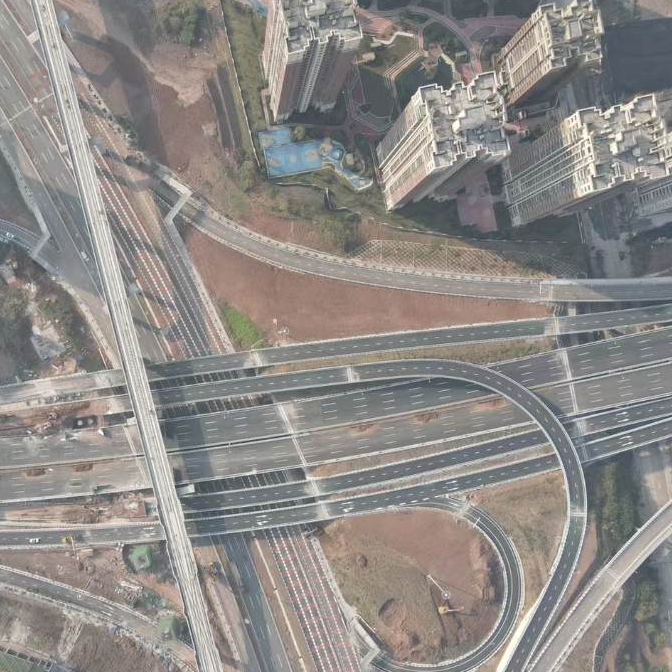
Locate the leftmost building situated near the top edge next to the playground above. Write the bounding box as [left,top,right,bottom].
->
[265,0,363,125]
